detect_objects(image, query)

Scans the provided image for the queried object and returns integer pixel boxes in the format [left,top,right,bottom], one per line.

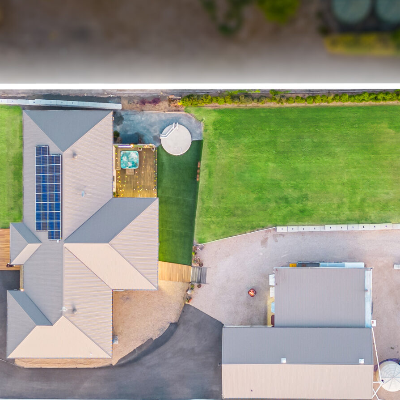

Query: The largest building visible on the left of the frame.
[7,109,159,359]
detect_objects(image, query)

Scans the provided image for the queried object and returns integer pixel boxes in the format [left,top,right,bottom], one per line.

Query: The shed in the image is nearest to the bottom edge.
[219,325,374,399]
